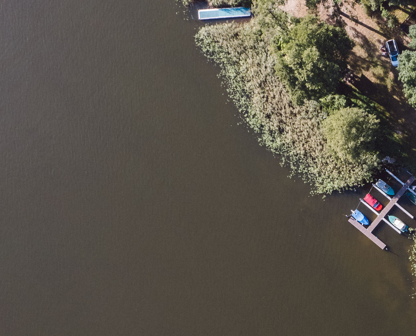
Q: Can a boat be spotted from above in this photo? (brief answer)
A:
Yes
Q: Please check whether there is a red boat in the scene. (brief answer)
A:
Yes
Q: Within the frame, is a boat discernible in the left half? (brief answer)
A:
No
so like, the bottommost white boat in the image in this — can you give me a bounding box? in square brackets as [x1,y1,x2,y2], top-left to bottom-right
[388,213,410,235]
